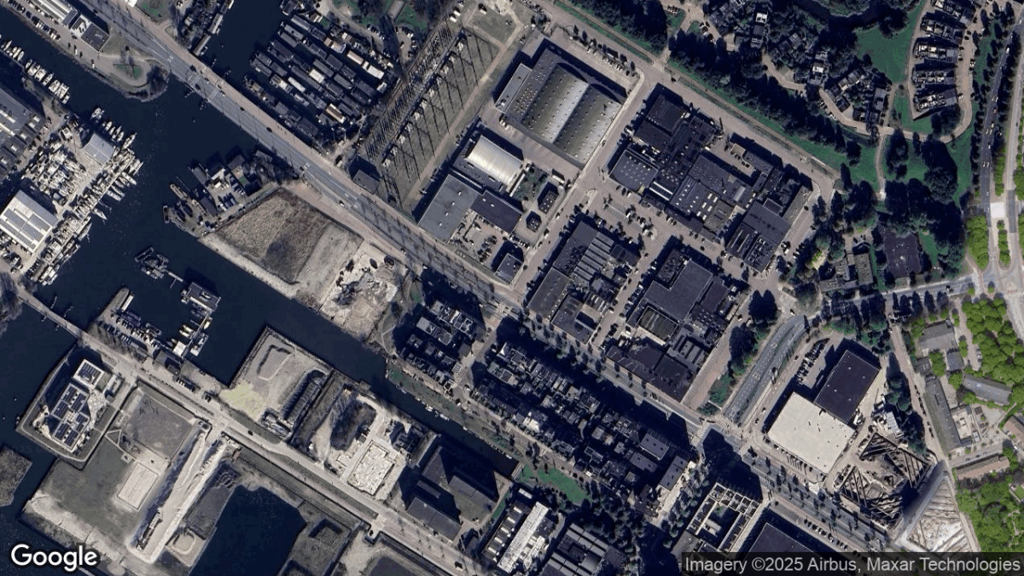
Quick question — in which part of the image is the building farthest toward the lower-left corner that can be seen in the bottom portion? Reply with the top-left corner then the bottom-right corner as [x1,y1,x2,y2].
[51,381,92,449]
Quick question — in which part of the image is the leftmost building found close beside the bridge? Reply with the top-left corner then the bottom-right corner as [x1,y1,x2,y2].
[0,188,60,253]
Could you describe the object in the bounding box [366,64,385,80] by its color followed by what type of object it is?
white boat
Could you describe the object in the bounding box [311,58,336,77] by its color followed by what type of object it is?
gray boat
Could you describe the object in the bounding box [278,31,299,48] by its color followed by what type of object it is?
gray boat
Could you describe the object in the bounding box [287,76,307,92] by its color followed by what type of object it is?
white boat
